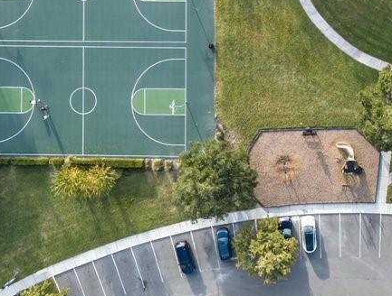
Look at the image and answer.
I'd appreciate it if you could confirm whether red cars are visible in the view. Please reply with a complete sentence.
No, there's no red car here.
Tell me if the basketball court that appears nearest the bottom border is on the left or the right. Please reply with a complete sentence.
The basketball court that appears nearest the bottom border sits on the left side.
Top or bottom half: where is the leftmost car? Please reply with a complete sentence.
The leftmost car is in the bottom half of the image.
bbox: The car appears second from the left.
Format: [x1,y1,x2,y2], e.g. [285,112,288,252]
[215,226,232,261]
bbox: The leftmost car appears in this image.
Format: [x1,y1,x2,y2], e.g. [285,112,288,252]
[175,240,195,275]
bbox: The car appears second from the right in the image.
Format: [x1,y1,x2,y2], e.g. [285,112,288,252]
[279,215,295,248]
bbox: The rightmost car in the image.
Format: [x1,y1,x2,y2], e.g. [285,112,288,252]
[301,216,318,253]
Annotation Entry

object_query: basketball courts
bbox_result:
[0,47,186,156]
[0,0,186,43]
